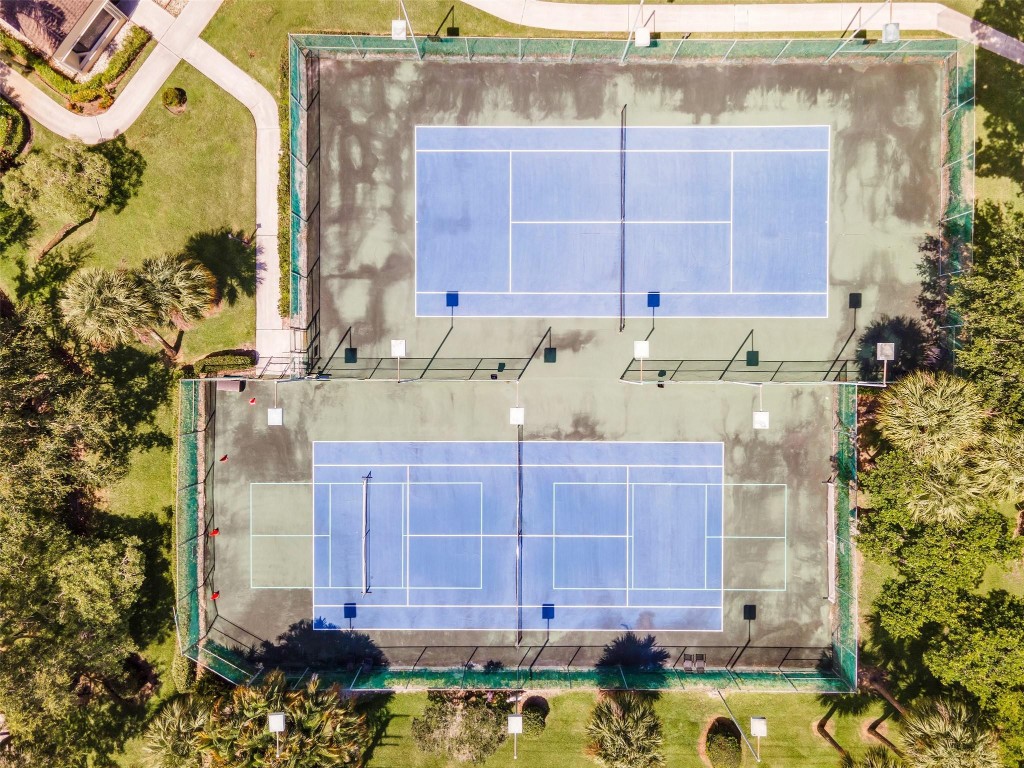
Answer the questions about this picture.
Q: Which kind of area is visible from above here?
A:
sports ground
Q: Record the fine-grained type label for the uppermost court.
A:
tennis court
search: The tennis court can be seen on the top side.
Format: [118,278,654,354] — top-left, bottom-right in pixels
[308,60,942,380]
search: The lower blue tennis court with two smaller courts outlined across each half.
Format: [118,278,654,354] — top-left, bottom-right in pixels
[205,379,835,670]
